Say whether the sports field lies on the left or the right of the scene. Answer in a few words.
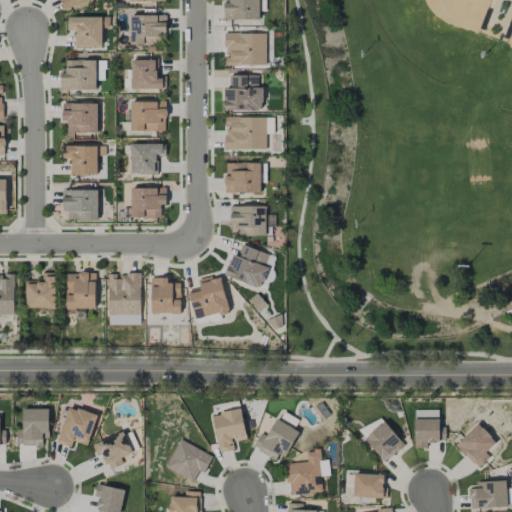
right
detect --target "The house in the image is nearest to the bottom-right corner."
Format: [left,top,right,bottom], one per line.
[472,482,512,510]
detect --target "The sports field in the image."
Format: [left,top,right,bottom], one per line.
[343,0,512,314]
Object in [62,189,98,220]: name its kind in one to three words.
house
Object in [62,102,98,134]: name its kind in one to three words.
house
